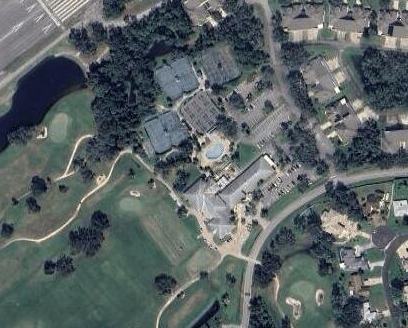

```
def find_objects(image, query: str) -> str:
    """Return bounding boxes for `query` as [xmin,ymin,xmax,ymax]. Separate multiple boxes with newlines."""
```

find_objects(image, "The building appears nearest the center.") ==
[183,155,274,235]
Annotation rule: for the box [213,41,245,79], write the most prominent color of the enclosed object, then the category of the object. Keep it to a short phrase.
gray tennis court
